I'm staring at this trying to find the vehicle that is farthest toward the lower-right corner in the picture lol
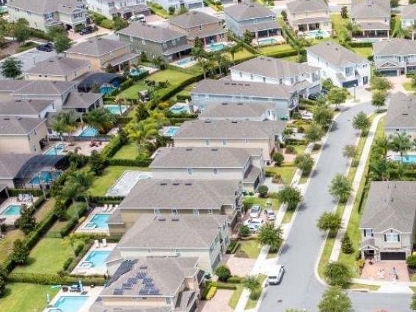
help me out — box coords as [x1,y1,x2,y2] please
[267,264,284,285]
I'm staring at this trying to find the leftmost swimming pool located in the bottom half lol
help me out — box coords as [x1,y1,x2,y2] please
[0,203,19,217]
